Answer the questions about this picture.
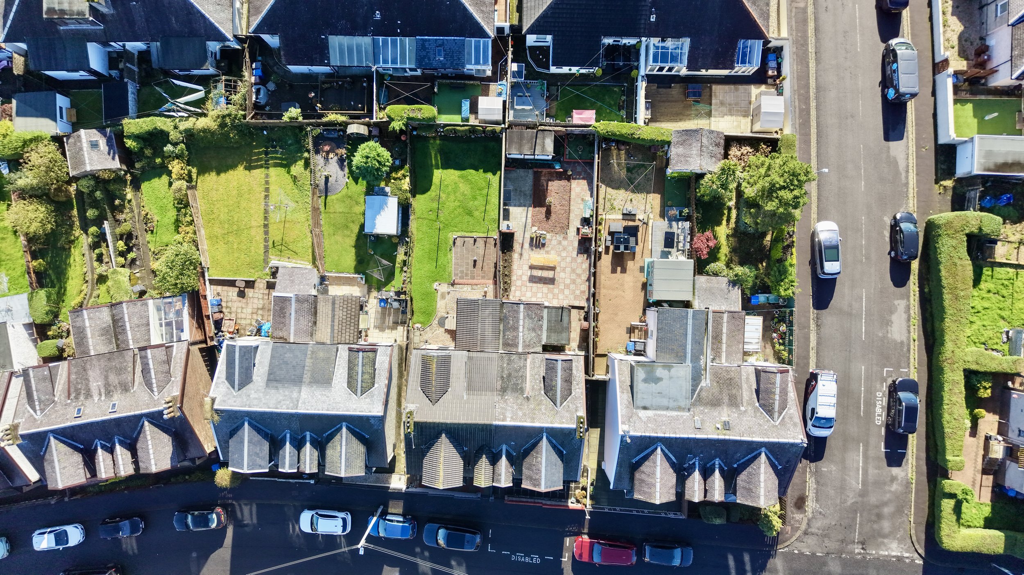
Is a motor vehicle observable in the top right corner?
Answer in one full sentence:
Yes, I can see a motor vehicle in the top right corner.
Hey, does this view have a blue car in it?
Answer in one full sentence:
Yes, looking at the shot, I can spot a blue car.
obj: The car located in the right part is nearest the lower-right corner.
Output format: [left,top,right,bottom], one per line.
[886,378,921,433]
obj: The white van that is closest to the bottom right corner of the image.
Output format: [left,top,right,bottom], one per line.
[806,372,839,432]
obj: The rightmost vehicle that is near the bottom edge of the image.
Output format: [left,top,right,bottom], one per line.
[643,541,694,572]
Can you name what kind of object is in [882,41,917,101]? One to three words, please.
van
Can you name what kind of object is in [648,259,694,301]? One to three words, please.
shed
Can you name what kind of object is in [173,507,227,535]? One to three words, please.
car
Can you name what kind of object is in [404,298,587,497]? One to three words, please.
house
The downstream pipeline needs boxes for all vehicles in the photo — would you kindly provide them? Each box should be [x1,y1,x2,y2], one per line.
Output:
[882,41,917,101]
[0,535,11,560]
[29,522,86,552]
[575,537,638,568]
[173,507,227,535]
[369,514,418,543]
[812,222,844,276]
[643,541,694,572]
[889,212,921,261]
[423,522,483,553]
[300,509,352,538]
[886,378,921,433]
[97,514,145,543]
[806,372,839,432]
